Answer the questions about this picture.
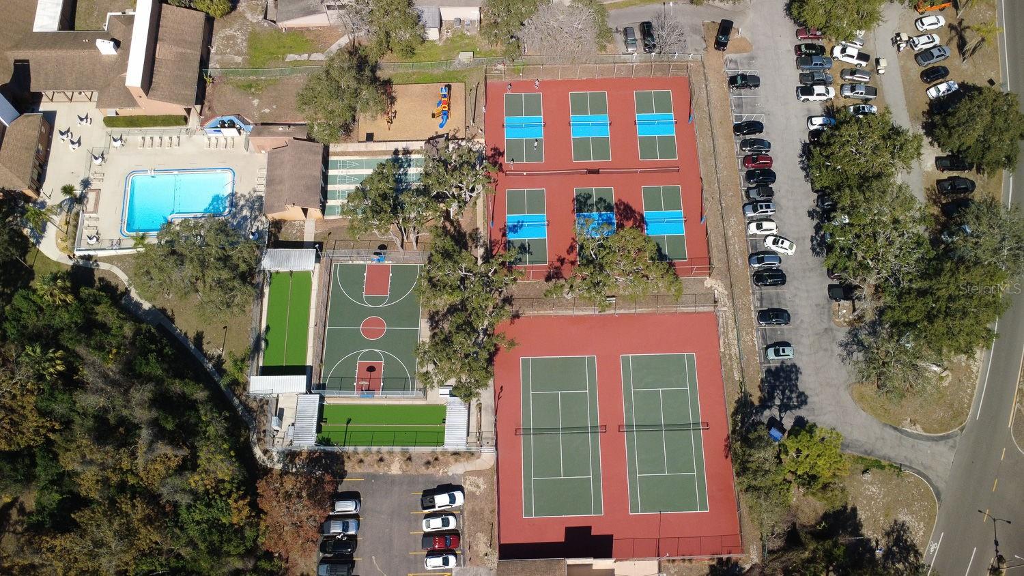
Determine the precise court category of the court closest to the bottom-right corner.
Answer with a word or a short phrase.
tennis court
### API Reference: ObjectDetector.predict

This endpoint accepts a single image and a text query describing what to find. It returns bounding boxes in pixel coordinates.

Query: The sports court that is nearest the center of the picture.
[506,188,549,266]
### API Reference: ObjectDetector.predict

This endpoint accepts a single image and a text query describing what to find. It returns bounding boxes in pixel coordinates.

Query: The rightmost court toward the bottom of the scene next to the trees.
[620,353,709,514]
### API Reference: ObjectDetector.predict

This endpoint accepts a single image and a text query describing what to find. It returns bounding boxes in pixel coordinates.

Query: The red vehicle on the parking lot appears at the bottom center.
[421,533,459,551]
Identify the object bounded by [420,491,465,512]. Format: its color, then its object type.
white truck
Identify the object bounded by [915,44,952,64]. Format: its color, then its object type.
gray vehicle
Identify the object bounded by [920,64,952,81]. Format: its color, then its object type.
black car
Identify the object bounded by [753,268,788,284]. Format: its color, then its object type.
black car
